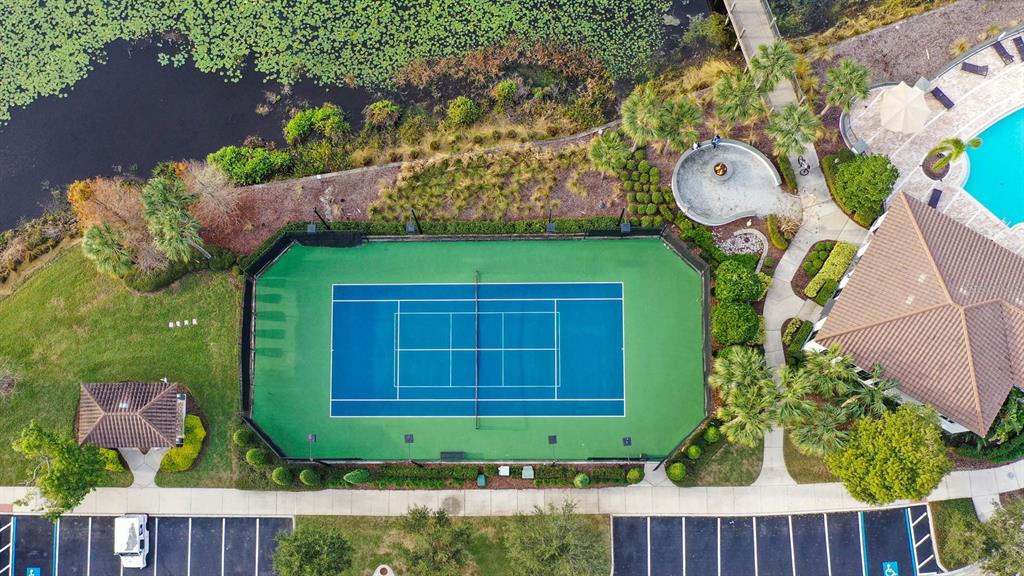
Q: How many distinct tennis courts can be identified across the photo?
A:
1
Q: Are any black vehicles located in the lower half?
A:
No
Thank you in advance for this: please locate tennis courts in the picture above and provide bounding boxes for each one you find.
[252,237,707,460]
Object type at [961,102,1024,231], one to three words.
swimming pool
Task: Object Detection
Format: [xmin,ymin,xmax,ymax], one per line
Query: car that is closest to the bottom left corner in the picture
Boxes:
[115,513,150,569]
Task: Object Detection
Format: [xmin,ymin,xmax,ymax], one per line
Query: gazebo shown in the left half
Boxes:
[78,383,184,449]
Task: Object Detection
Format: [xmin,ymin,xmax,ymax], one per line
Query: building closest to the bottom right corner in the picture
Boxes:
[808,190,1024,437]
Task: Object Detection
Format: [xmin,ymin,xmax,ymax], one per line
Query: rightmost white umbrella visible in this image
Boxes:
[880,82,930,134]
